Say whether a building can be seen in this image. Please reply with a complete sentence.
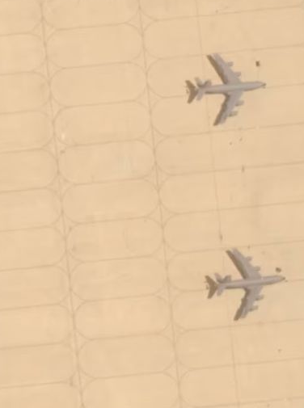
No, the photo shows no building.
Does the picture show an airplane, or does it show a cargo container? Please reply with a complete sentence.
It is an airplane that can be seen here.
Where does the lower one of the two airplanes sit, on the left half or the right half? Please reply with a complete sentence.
The lower one of the two airplanes is on the right side of the image.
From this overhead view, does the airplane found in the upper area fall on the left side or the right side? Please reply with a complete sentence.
It is on the right.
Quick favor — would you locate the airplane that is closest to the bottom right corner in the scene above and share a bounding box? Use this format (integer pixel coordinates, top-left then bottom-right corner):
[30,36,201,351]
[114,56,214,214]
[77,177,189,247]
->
[214,247,285,318]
